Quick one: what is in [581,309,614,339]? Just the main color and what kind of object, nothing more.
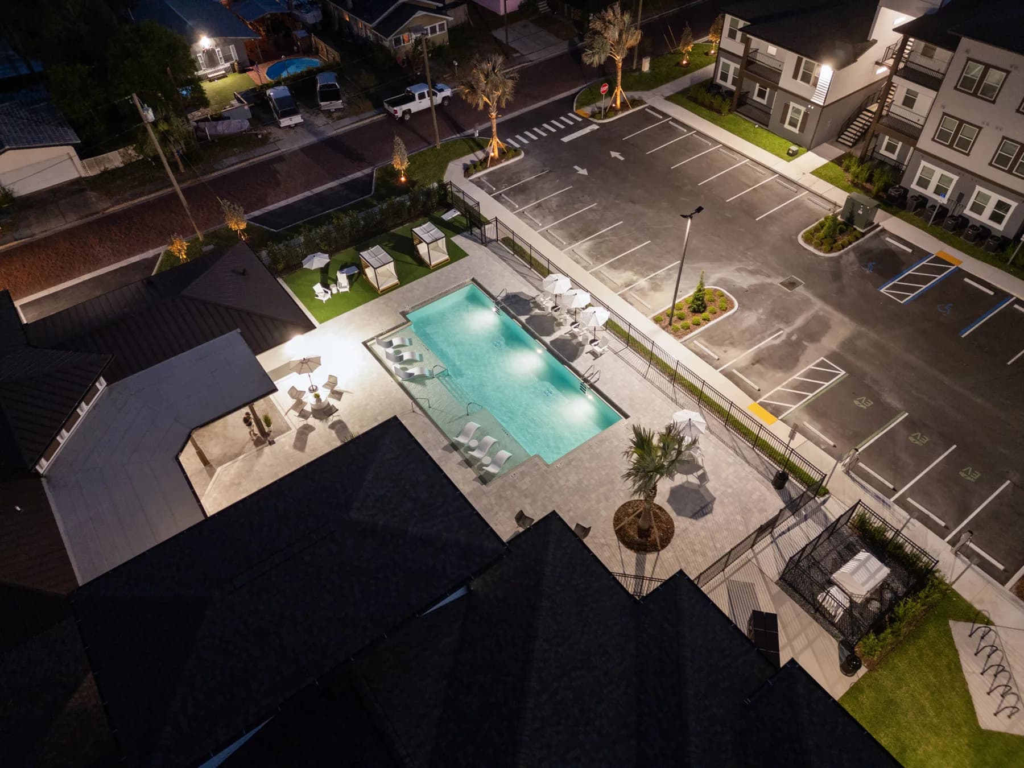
white umbrella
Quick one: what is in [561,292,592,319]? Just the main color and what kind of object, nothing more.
white umbrella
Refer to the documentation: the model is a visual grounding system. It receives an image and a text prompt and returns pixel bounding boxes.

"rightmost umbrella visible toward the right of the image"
[674,412,712,449]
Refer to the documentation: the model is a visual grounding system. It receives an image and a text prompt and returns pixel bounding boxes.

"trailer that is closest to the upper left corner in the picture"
[209,91,251,114]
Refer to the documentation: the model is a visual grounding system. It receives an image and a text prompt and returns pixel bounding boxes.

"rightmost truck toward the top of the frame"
[383,86,456,125]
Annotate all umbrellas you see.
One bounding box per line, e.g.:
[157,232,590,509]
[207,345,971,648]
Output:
[561,292,592,319]
[541,274,572,302]
[581,309,614,339]
[287,352,325,387]
[299,258,329,296]
[674,412,712,449]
